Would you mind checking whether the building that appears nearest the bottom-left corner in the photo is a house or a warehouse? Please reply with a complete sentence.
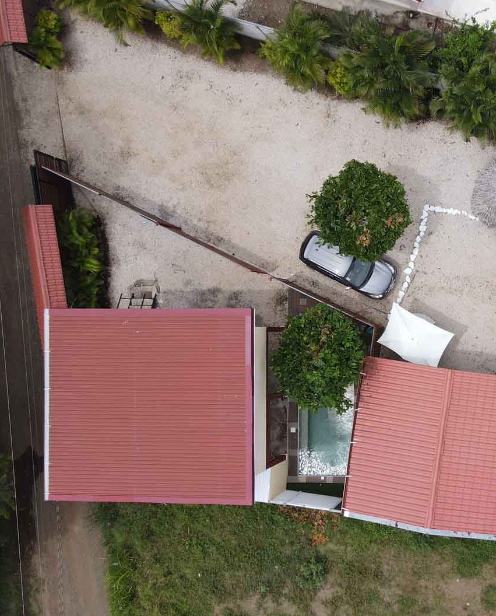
I'd say the building that appears nearest the bottom-left corner is a house.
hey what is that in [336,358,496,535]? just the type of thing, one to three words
house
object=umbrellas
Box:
[467,158,496,236]
[378,302,453,367]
